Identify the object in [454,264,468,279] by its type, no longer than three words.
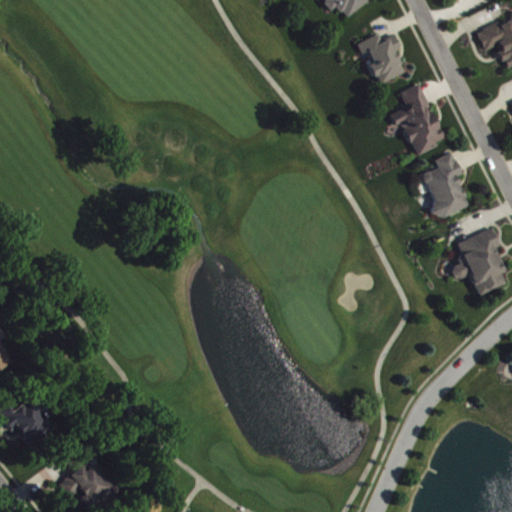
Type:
gazebo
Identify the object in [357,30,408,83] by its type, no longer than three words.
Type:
house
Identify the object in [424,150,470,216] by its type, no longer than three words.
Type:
house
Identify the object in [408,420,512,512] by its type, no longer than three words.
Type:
pond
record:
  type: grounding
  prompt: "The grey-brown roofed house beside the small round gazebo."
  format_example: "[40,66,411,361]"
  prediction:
[458,226,511,290]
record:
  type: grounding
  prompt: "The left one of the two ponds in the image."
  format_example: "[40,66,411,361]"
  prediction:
[189,250,364,472]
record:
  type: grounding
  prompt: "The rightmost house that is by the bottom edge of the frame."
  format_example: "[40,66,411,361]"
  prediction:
[69,466,114,501]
